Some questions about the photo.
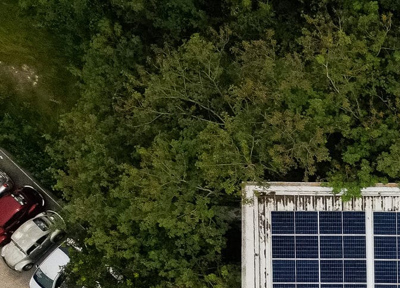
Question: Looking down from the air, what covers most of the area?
trees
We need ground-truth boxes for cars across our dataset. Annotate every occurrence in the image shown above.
[5,217,69,278]
[0,187,43,251]
[31,239,82,288]
[0,167,17,199]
